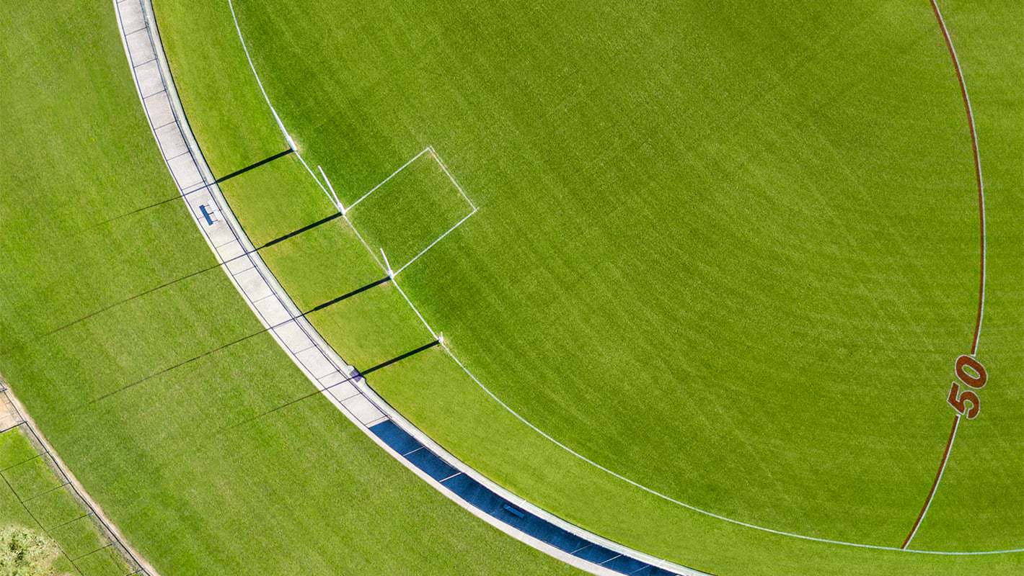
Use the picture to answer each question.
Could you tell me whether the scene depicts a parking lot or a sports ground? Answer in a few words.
sports ground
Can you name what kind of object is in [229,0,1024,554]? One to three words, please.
sports field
